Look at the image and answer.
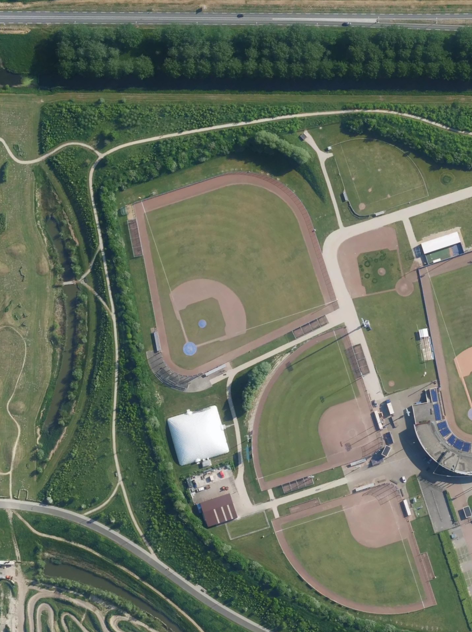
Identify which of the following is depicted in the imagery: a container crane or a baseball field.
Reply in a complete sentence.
The image shows a baseball field.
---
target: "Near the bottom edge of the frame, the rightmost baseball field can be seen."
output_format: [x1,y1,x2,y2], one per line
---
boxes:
[272,483,436,615]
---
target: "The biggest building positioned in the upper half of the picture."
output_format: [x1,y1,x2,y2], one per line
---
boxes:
[421,232,463,265]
